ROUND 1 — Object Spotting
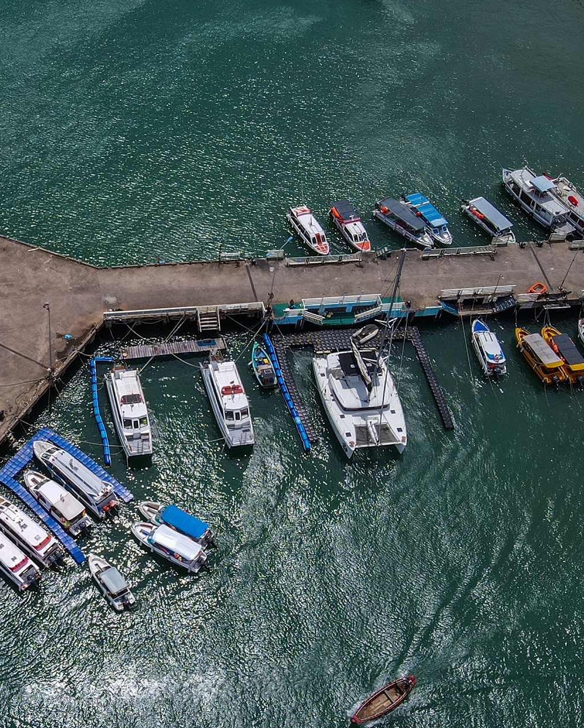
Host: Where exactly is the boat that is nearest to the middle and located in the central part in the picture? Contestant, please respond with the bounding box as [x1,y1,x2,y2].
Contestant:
[252,337,276,389]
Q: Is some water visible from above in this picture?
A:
Yes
